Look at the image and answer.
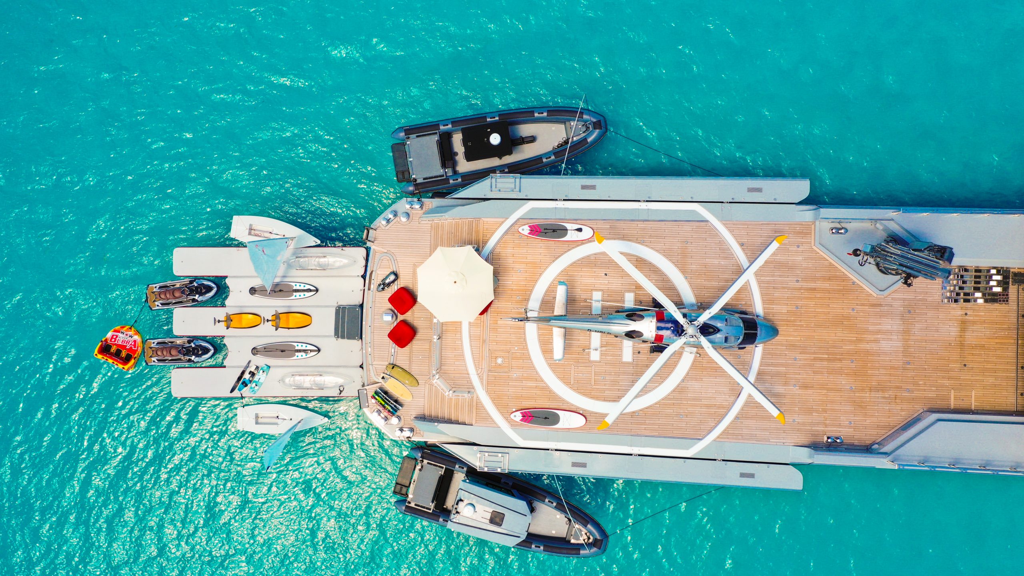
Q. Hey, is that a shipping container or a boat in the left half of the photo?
boat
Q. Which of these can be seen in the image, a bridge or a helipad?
helipad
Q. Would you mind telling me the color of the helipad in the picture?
white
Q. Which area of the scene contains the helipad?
center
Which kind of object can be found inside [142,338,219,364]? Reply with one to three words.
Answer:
boat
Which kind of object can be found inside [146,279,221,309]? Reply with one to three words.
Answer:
boat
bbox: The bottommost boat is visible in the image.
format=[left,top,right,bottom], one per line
[395,445,610,550]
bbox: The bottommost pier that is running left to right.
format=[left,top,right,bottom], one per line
[172,367,364,397]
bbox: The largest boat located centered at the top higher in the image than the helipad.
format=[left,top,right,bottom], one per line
[392,106,609,196]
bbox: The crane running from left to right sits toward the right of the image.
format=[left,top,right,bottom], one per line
[845,236,959,287]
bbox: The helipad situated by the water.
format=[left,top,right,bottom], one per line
[460,201,766,456]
